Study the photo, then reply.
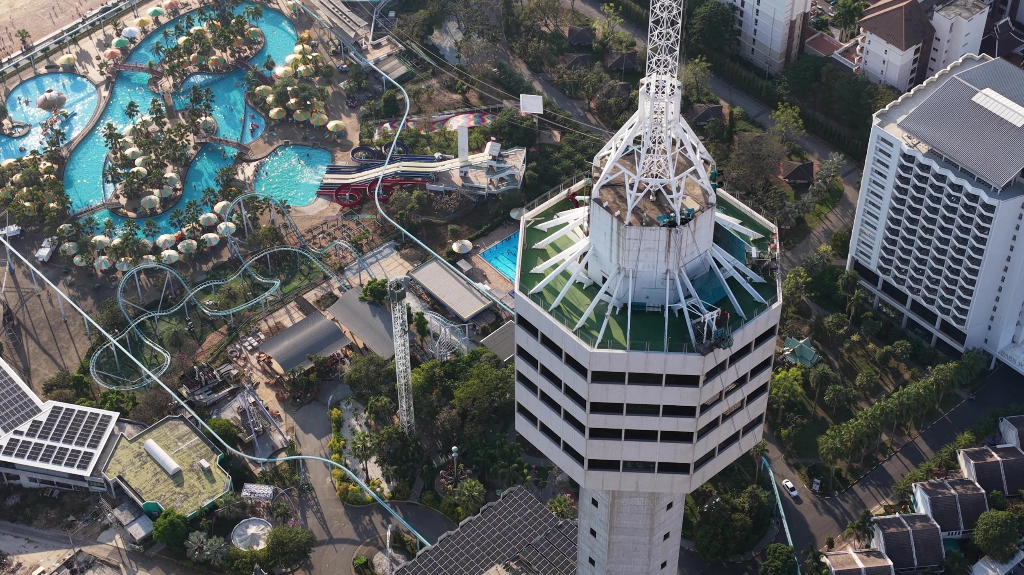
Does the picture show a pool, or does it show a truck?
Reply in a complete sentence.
This aerial view contains a pool.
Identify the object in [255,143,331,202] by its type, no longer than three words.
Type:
swimming pool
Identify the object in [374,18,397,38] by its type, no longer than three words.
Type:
shed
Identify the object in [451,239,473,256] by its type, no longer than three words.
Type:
umbrella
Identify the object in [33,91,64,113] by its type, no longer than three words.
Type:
fountain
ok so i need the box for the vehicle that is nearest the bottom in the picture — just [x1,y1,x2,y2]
[782,478,799,499]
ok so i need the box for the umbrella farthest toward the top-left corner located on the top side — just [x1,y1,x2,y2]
[59,54,78,67]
